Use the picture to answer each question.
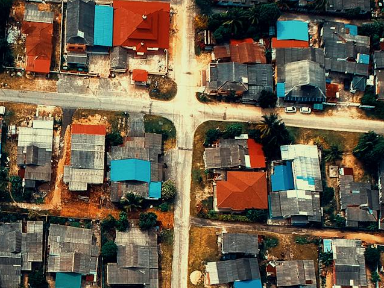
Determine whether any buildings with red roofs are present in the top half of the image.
Yes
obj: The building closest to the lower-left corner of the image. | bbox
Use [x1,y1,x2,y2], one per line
[0,218,43,288]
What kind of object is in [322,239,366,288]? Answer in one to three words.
house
